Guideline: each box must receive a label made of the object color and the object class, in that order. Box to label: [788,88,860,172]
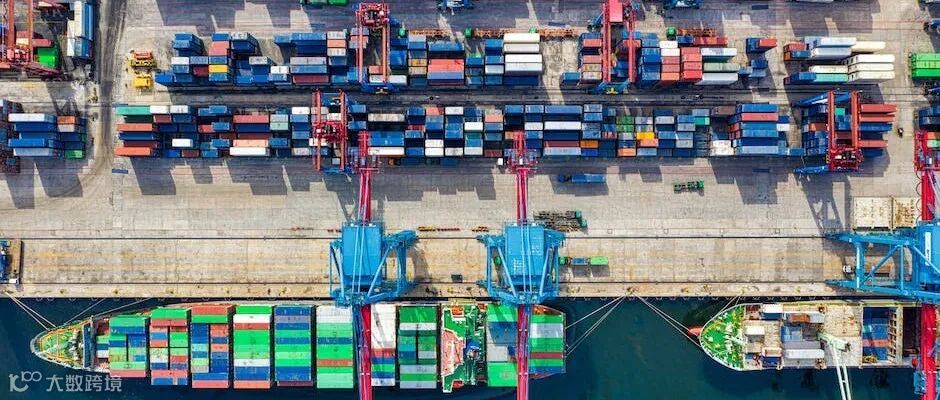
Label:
red container crane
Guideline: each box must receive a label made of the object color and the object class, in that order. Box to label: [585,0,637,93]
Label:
red container crane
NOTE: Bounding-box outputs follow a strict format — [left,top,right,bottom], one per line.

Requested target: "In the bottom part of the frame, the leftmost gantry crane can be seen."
[324,132,421,400]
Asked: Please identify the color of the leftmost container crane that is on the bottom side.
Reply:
blue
